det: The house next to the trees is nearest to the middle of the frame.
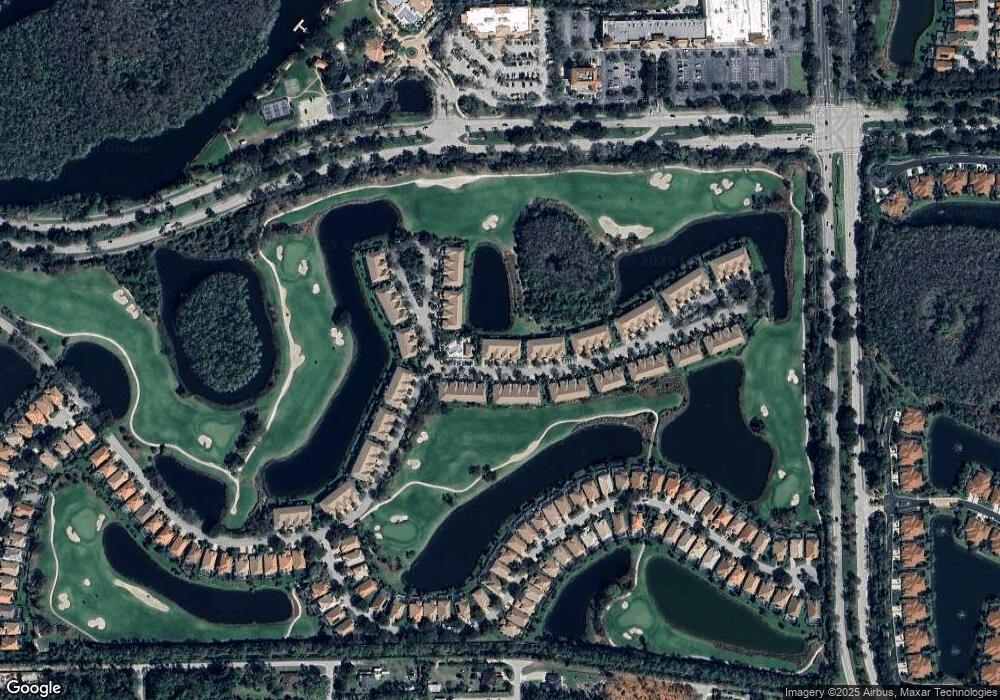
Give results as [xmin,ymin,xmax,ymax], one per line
[482,340,521,365]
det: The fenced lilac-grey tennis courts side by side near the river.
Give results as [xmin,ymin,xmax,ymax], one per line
[262,98,291,120]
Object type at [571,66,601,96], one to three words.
building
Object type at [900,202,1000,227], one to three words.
pond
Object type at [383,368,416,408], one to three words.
house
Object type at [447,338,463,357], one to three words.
swimming pool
